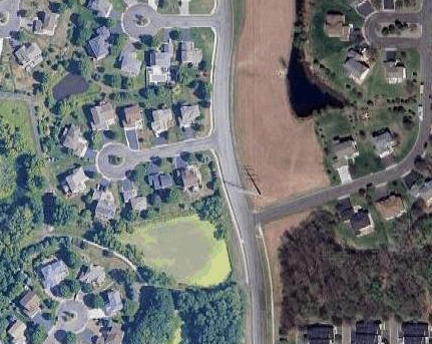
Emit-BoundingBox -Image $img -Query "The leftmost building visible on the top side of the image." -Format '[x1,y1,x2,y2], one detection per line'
[18,42,44,69]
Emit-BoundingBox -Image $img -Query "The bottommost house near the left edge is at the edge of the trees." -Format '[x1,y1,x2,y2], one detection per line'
[6,320,30,344]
